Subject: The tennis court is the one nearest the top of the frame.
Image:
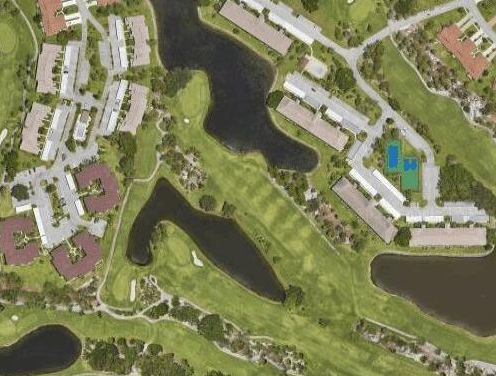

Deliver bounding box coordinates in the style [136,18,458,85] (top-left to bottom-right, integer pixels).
[387,140,401,171]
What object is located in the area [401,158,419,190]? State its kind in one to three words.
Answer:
sports court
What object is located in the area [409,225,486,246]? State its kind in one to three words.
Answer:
building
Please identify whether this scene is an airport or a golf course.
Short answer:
golf course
